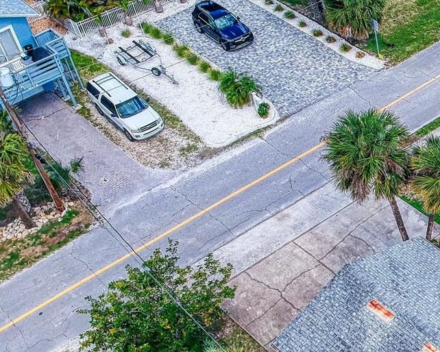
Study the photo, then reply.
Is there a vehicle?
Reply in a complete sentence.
Yes, the photo shows a vehicle.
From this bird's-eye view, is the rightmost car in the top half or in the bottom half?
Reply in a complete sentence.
You can find the rightmost car in the top half.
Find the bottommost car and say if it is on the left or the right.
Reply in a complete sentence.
The bottommost car appears in the left half of the scene.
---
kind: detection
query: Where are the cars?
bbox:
[187,0,258,52]
[84,67,169,142]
